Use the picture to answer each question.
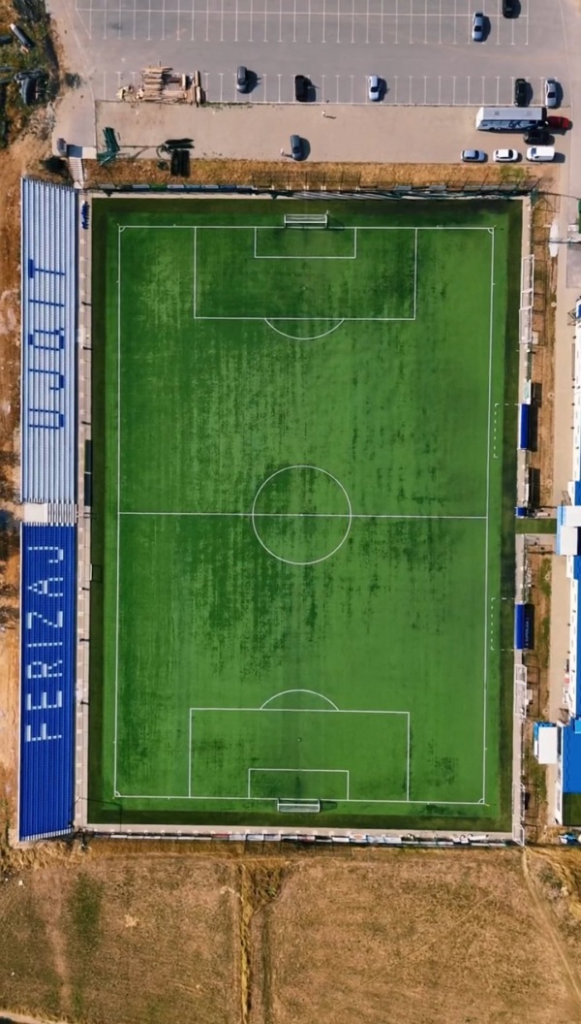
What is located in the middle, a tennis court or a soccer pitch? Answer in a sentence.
Visible in the middle is a soccer pitch.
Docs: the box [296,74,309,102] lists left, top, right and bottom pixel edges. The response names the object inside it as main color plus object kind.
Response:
black vehicle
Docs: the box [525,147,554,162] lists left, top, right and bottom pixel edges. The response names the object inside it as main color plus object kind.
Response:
white vehicle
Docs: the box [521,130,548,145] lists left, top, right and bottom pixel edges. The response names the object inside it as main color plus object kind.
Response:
black car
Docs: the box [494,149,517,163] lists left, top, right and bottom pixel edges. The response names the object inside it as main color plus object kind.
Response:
white car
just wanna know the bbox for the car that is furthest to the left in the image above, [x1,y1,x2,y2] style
[236,65,249,93]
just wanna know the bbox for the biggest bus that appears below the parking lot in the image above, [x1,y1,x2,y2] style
[477,107,549,132]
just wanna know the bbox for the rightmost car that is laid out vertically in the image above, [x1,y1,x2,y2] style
[545,80,558,107]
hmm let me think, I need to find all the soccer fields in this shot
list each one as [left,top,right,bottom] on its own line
[87,198,523,833]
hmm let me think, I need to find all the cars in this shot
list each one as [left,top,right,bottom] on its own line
[296,74,309,102]
[516,78,529,106]
[472,13,484,41]
[369,76,381,101]
[545,116,572,131]
[502,0,515,19]
[545,80,558,107]
[236,65,249,93]
[292,135,303,160]
[461,150,484,163]
[494,149,517,163]
[521,130,548,145]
